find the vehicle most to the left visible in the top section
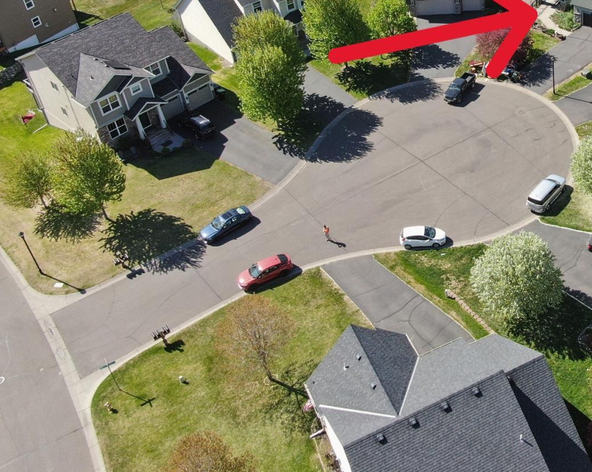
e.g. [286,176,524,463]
[171,115,222,140]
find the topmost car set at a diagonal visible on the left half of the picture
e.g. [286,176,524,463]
[197,199,255,241]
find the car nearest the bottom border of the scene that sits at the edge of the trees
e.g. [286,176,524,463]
[235,250,297,293]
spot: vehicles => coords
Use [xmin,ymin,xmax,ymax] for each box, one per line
[443,67,482,102]
[398,226,447,252]
[523,173,575,215]
[235,250,297,293]
[171,115,222,140]
[197,199,255,241]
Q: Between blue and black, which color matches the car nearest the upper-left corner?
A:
black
